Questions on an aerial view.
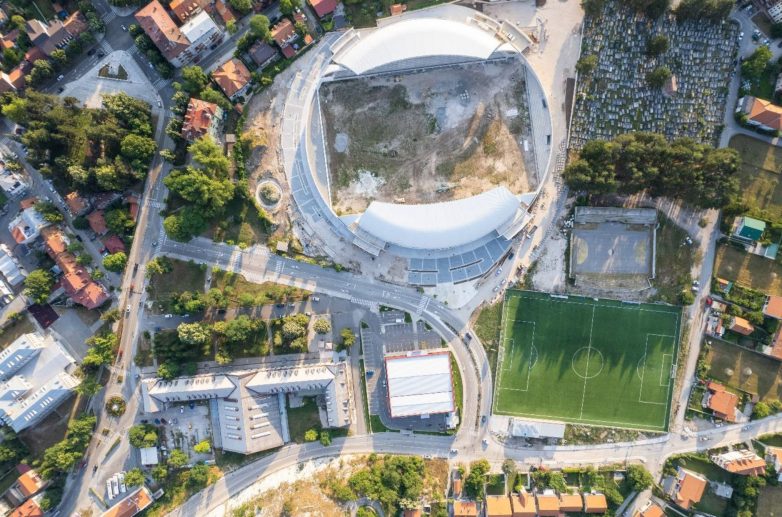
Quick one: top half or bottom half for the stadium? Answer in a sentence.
You can find the stadium in the top half.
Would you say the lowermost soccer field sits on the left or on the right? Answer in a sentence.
The lowermost soccer field sits on the right side.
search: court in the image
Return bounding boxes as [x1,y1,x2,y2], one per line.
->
[571,207,659,280]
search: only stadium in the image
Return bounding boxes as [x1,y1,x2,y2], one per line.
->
[281,0,553,284]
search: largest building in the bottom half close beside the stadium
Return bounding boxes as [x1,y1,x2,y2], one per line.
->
[140,365,355,454]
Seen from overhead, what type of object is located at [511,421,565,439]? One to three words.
building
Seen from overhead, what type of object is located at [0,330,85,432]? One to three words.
building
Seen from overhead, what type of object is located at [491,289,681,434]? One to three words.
soccer field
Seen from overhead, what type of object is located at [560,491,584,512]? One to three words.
house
